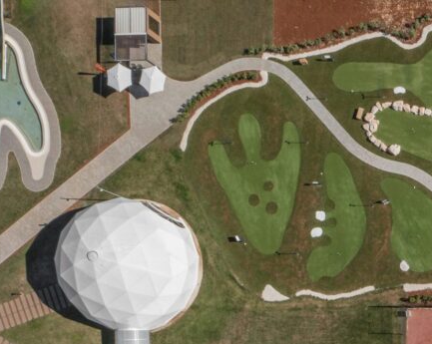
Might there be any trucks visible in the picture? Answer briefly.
No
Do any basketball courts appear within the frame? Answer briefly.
No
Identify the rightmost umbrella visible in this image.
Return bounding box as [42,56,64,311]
[140,64,168,96]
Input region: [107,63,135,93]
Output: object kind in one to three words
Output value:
umbrella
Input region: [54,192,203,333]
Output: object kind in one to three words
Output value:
building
